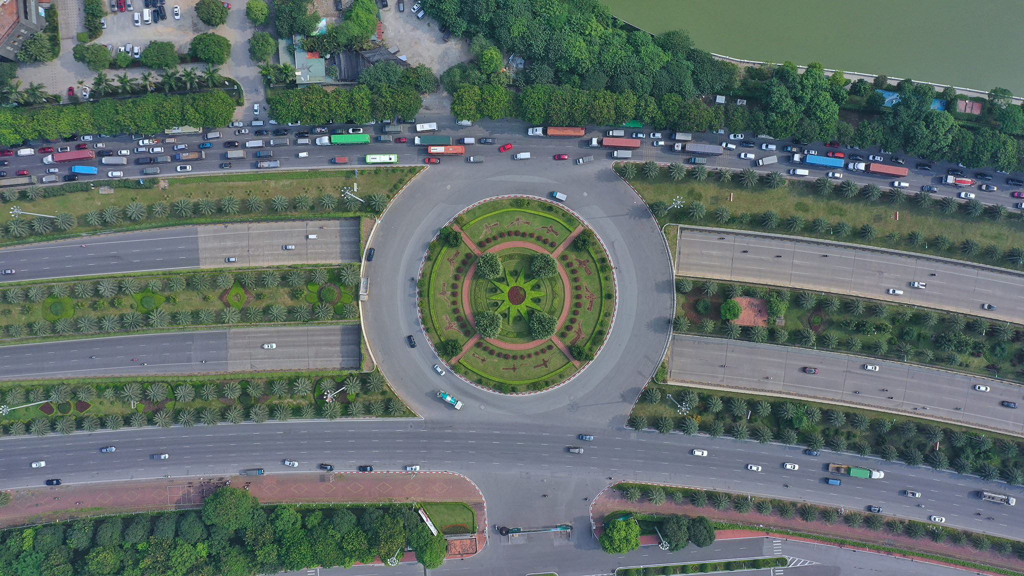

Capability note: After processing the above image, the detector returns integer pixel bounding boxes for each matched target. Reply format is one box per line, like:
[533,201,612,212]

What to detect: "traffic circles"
[361,160,673,425]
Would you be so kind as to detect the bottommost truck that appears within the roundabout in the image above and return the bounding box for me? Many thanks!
[436,389,466,410]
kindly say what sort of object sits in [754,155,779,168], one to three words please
vehicle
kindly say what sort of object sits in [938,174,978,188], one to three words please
vehicle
